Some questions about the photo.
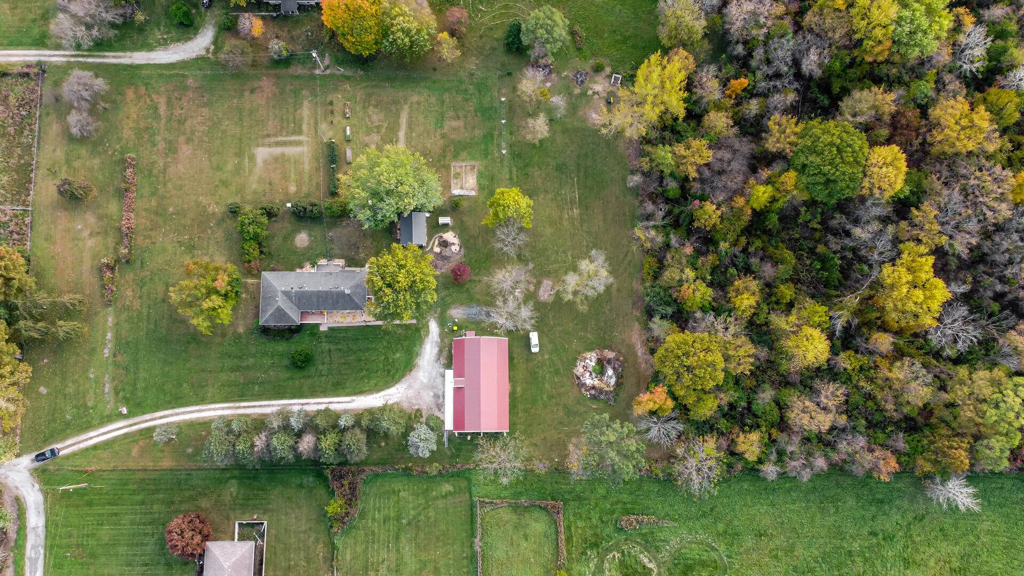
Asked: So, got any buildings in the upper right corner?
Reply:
No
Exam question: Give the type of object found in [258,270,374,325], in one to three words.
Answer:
house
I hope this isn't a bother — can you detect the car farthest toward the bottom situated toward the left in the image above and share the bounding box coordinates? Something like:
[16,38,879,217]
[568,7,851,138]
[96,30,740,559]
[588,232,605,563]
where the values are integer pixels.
[34,445,62,464]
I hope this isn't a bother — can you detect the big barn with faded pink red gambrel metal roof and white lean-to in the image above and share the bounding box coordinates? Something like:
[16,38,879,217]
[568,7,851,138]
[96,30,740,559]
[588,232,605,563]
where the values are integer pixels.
[445,331,509,436]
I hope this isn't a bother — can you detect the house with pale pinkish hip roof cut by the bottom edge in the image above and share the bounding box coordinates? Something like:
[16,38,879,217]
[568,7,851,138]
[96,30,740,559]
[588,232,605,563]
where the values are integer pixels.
[202,540,255,576]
